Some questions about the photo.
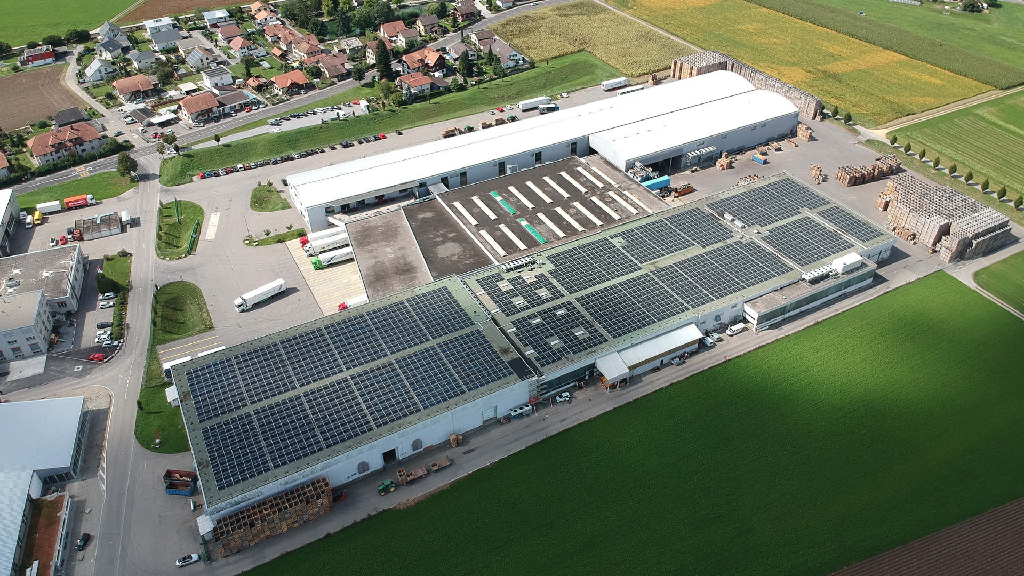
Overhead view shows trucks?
Yes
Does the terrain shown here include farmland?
Yes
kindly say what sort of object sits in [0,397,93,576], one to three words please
building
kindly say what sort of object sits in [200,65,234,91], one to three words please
house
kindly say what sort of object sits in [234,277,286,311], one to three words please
truck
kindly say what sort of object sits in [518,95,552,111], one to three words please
vehicle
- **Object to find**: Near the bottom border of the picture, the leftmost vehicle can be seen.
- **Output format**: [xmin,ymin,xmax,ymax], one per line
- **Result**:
[73,534,91,554]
